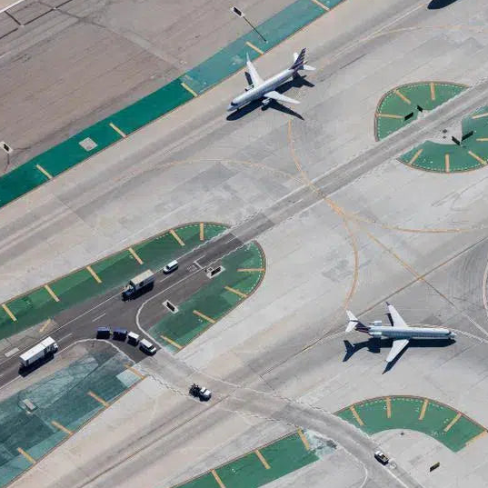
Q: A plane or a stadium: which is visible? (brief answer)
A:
plane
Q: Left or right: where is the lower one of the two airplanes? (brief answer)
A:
right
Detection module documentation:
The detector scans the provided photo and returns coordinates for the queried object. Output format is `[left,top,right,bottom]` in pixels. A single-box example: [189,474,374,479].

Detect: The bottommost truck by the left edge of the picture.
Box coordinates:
[20,338,60,367]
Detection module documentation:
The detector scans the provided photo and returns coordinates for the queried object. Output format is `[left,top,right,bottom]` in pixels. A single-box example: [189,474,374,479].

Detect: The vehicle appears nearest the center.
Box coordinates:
[162,258,180,273]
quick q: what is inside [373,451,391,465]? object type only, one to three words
vehicle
